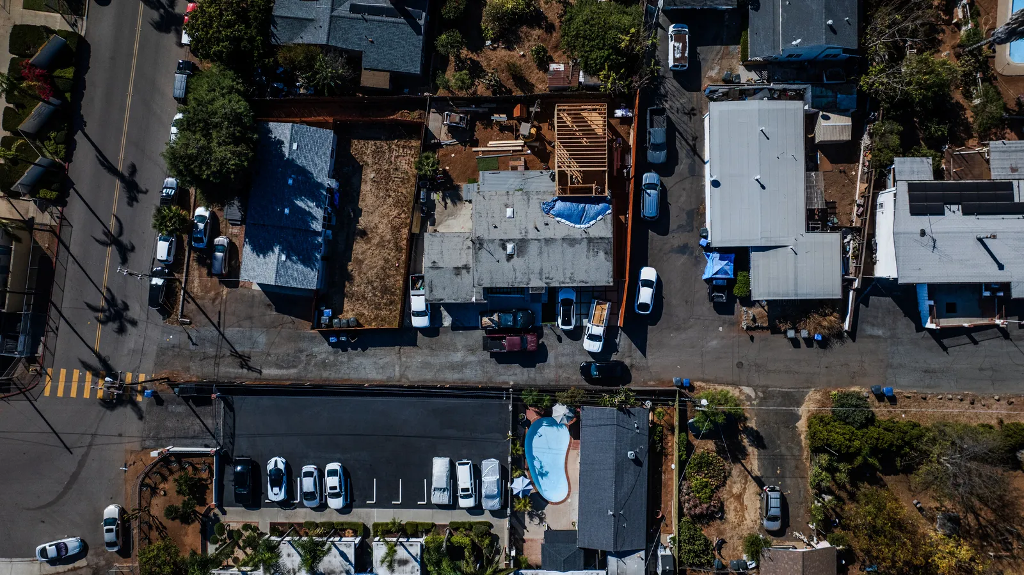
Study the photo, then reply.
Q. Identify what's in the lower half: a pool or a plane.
pool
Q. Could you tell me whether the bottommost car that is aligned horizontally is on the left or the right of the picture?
left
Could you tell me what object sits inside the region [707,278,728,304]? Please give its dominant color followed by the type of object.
black car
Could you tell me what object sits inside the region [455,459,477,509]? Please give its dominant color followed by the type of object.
white car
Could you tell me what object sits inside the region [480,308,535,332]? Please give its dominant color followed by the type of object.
black truck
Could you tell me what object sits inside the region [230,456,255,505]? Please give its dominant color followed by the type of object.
black car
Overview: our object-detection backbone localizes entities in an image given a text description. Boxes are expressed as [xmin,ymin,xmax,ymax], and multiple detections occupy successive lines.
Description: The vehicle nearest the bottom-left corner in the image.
[34,534,88,562]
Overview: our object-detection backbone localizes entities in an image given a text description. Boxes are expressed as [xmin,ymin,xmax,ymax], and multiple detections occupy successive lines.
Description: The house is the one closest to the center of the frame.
[424,170,613,303]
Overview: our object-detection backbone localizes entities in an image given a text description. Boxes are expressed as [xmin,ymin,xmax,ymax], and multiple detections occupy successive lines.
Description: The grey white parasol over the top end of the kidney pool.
[551,401,574,424]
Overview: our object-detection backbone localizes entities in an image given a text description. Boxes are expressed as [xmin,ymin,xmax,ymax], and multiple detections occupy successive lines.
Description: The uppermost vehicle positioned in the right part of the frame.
[667,23,692,71]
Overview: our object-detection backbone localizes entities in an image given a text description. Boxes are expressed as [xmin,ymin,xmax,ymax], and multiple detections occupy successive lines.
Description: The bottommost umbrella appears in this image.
[509,474,532,496]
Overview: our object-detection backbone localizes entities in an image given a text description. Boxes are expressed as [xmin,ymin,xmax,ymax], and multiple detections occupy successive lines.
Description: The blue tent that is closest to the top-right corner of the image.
[700,252,735,279]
